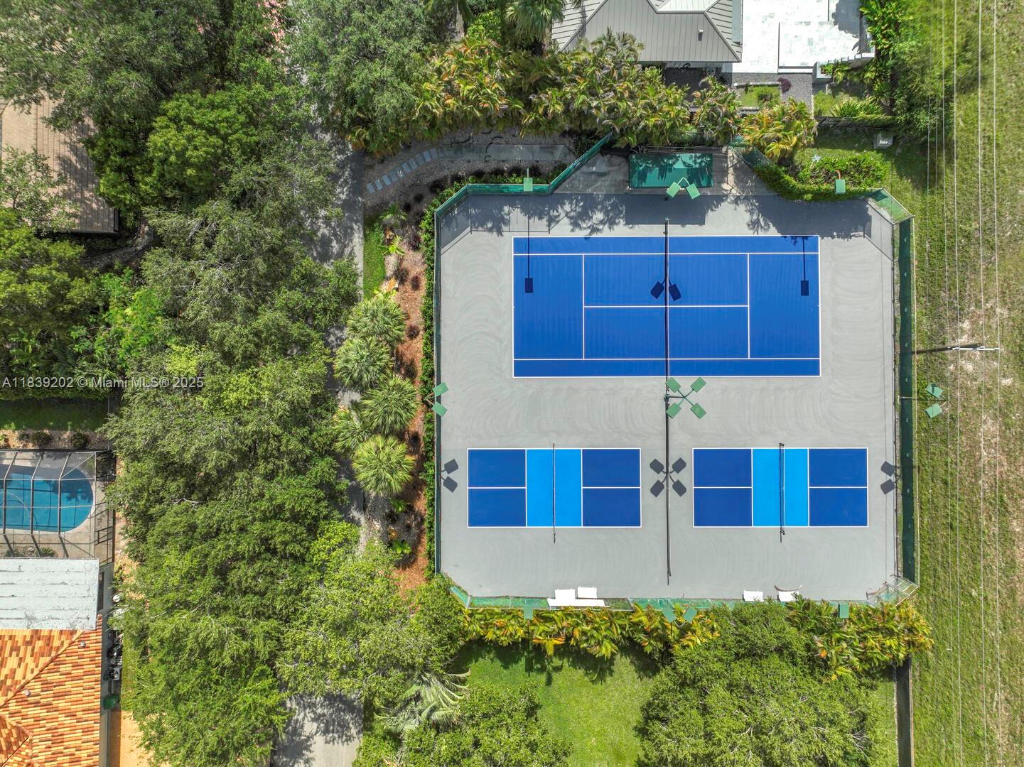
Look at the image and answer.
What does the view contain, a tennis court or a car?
tennis court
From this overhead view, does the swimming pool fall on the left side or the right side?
left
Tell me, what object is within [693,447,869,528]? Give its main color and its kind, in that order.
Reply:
blue sports court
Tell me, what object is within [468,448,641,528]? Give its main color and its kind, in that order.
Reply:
blue sports court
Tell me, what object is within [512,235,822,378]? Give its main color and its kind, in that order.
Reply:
blue tennis court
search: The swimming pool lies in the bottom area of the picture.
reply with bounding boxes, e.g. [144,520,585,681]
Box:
[0,460,98,535]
